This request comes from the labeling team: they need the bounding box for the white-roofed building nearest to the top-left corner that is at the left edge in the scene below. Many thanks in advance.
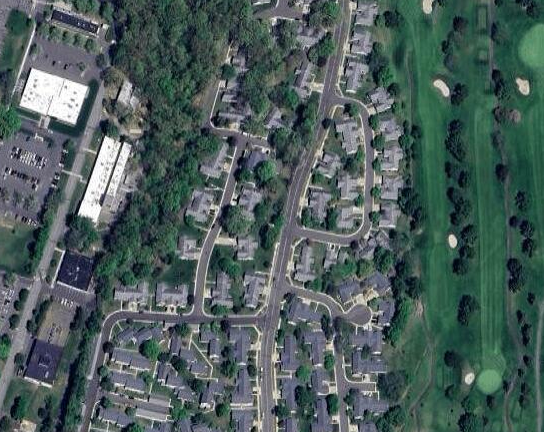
[20,68,89,127]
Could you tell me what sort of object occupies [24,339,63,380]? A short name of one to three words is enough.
building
